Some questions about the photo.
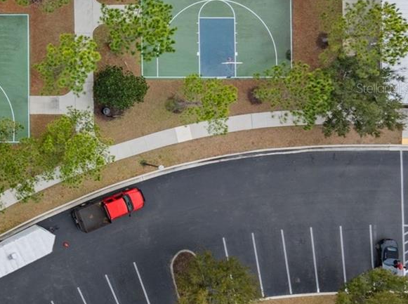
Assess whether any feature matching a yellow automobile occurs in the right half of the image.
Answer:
No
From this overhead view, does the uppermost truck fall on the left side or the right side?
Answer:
left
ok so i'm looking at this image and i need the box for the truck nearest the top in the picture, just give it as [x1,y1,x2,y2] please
[72,190,144,234]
